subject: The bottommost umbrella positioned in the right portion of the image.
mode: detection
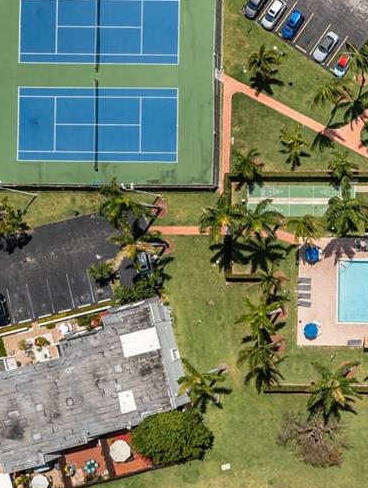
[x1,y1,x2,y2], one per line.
[303,322,319,339]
